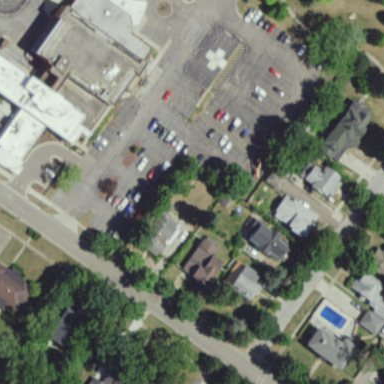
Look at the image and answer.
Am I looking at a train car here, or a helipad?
helipad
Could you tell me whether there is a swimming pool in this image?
Yes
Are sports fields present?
No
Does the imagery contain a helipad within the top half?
Yes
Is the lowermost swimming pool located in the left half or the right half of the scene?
right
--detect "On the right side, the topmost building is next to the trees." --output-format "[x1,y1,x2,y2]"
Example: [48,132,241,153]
[323,98,376,166]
